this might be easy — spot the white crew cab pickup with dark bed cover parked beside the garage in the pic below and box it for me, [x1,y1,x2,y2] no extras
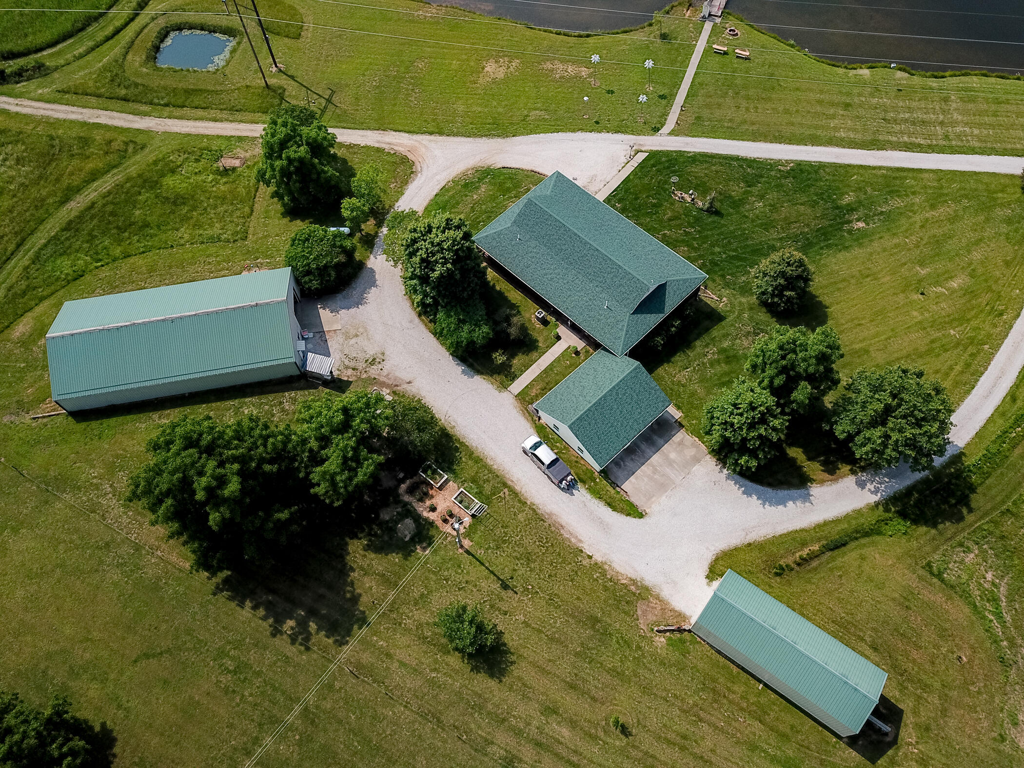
[520,435,571,488]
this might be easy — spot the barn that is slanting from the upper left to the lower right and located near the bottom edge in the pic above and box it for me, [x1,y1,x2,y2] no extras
[687,569,888,737]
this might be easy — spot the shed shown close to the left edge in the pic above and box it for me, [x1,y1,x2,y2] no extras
[46,268,305,414]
